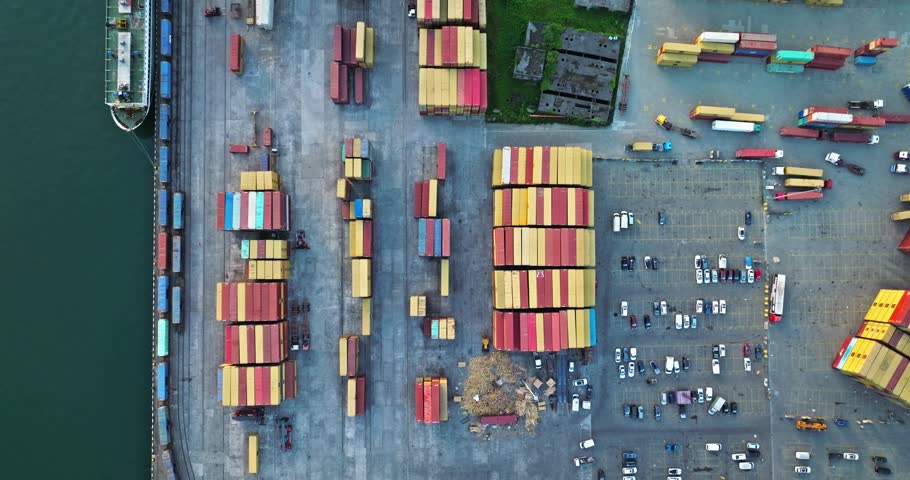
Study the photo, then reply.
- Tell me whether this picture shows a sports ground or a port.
port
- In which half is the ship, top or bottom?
top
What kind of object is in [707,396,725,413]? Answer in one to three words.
vehicle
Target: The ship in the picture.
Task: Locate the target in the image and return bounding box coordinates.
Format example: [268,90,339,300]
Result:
[102,0,156,130]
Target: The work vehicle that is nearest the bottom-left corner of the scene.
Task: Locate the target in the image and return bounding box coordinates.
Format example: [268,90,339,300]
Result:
[231,408,262,427]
